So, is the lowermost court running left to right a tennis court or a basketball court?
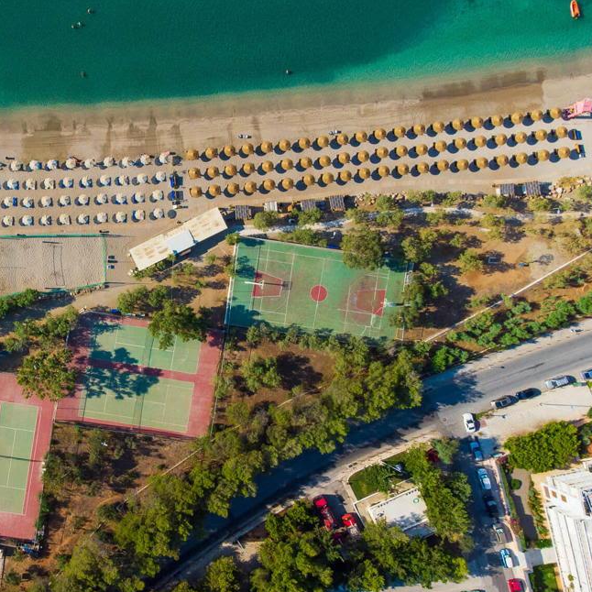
tennis court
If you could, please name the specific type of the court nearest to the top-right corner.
basketball court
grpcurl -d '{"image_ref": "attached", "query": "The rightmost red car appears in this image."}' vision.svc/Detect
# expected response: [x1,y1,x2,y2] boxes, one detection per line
[509,577,521,592]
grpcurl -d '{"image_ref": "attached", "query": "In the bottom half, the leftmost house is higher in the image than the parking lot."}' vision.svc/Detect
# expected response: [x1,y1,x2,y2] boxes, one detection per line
[364,486,433,537]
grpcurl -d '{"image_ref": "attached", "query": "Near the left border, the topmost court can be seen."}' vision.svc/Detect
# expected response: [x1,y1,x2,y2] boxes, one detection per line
[0,236,106,299]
